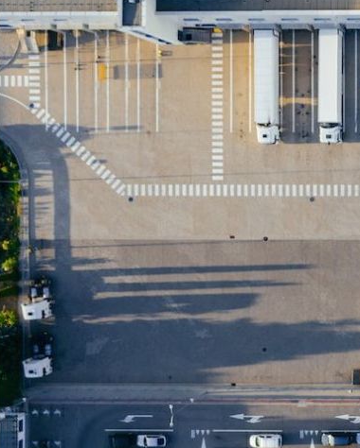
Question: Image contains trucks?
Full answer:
Yes, a truck appears in the view.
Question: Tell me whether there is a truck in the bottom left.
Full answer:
Yes, the scene does show a truck in the bottom left.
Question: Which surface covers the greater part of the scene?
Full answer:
For the most part, this view shows paved ground.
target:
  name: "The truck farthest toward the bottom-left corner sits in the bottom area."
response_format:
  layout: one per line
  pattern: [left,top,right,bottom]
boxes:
[26,337,60,383]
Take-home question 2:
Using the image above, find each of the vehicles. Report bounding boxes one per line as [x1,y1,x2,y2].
[250,433,283,448]
[323,431,353,447]
[110,433,140,448]
[139,433,167,448]
[255,31,281,145]
[319,31,343,145]
[26,337,60,383]
[25,281,58,326]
